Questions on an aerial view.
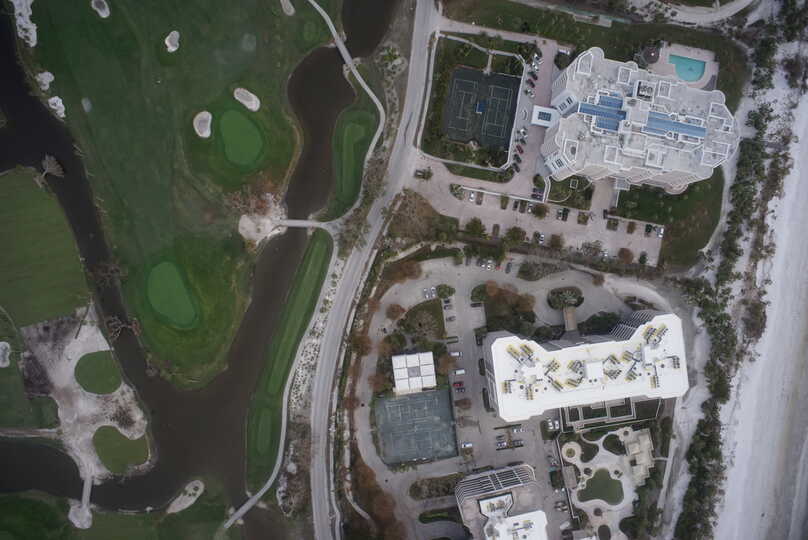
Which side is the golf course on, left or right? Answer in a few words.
left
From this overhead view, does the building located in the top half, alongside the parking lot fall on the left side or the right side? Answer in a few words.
right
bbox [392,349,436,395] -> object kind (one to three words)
building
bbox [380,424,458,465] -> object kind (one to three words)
tennis court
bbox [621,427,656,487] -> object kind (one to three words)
building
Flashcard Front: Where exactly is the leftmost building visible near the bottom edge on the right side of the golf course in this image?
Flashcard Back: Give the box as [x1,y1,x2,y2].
[458,466,547,540]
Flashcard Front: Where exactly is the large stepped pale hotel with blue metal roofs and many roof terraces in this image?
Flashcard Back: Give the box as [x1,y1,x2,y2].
[534,46,742,198]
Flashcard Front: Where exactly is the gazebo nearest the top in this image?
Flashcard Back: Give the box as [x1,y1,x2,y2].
[642,47,659,64]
